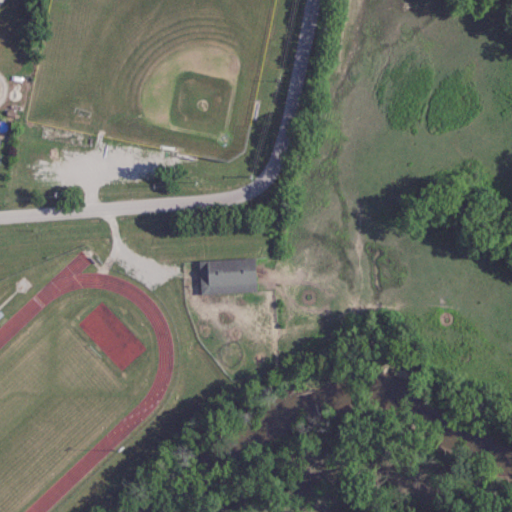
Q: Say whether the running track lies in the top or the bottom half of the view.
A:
bottom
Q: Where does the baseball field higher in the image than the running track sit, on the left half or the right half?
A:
left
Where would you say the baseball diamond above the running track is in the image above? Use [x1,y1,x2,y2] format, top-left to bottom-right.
[28,0,277,162]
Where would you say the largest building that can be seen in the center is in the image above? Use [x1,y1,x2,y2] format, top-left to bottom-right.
[200,259,258,294]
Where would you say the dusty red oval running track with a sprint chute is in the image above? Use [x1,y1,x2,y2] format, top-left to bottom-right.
[0,256,174,512]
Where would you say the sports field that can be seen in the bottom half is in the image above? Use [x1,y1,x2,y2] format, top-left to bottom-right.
[0,343,101,510]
